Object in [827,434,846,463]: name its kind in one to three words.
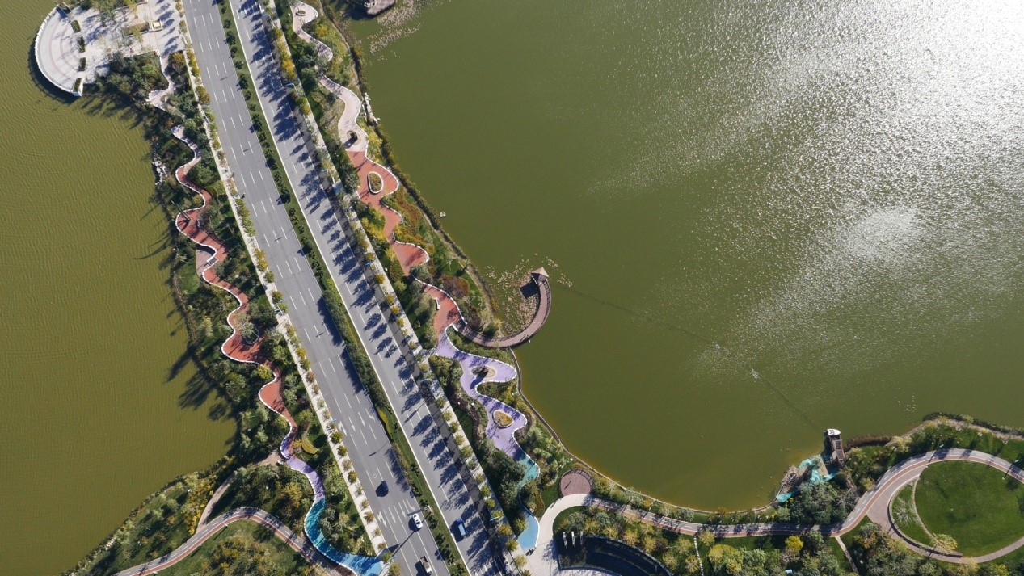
pier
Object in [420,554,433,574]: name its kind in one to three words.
vehicle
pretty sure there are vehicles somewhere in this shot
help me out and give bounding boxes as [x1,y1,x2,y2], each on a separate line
[379,478,390,493]
[455,518,467,536]
[420,554,433,574]
[413,514,423,529]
